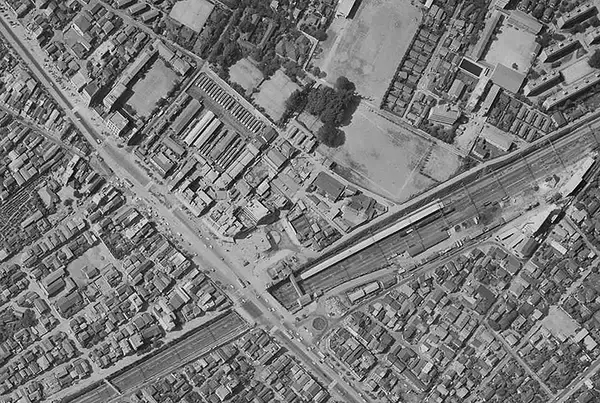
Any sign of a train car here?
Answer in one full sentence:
No, the picture doesn't show any train car.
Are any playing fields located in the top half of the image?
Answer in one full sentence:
Yes, there is a playing field in the top half of the image.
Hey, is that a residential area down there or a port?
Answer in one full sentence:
It's a residential area.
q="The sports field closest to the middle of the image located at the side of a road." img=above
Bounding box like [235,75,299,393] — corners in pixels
[320,103,435,200]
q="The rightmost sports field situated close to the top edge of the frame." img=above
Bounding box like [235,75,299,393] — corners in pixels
[311,0,423,99]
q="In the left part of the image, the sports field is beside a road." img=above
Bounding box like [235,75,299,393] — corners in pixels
[169,0,214,32]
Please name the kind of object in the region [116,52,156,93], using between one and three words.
building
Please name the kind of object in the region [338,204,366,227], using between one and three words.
building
